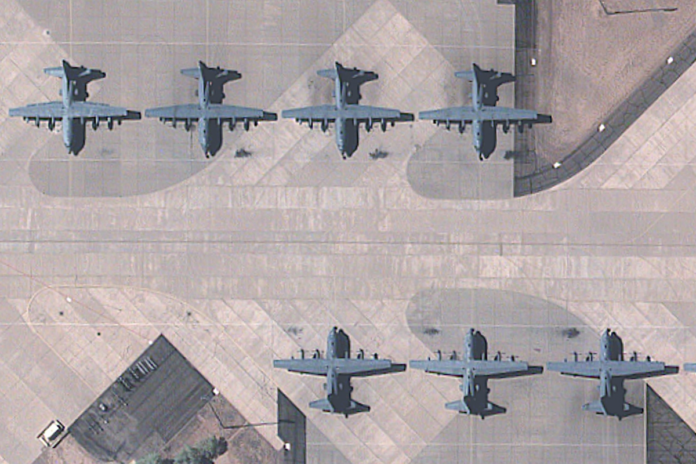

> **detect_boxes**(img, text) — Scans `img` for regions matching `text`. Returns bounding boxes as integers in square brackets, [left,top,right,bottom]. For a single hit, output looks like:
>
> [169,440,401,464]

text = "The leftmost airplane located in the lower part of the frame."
[273,327,392,414]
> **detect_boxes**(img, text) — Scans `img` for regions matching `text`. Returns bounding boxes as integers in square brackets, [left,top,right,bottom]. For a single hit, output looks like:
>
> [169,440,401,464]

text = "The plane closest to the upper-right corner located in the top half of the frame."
[419,63,538,156]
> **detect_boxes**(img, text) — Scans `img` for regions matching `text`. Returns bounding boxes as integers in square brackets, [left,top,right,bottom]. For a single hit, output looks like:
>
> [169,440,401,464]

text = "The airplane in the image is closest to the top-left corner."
[10,60,127,153]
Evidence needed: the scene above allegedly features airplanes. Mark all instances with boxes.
[145,62,264,154]
[283,61,400,154]
[419,63,538,156]
[683,363,696,372]
[546,329,666,416]
[409,328,529,414]
[10,60,127,153]
[273,327,392,414]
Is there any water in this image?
No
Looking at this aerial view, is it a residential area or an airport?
airport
